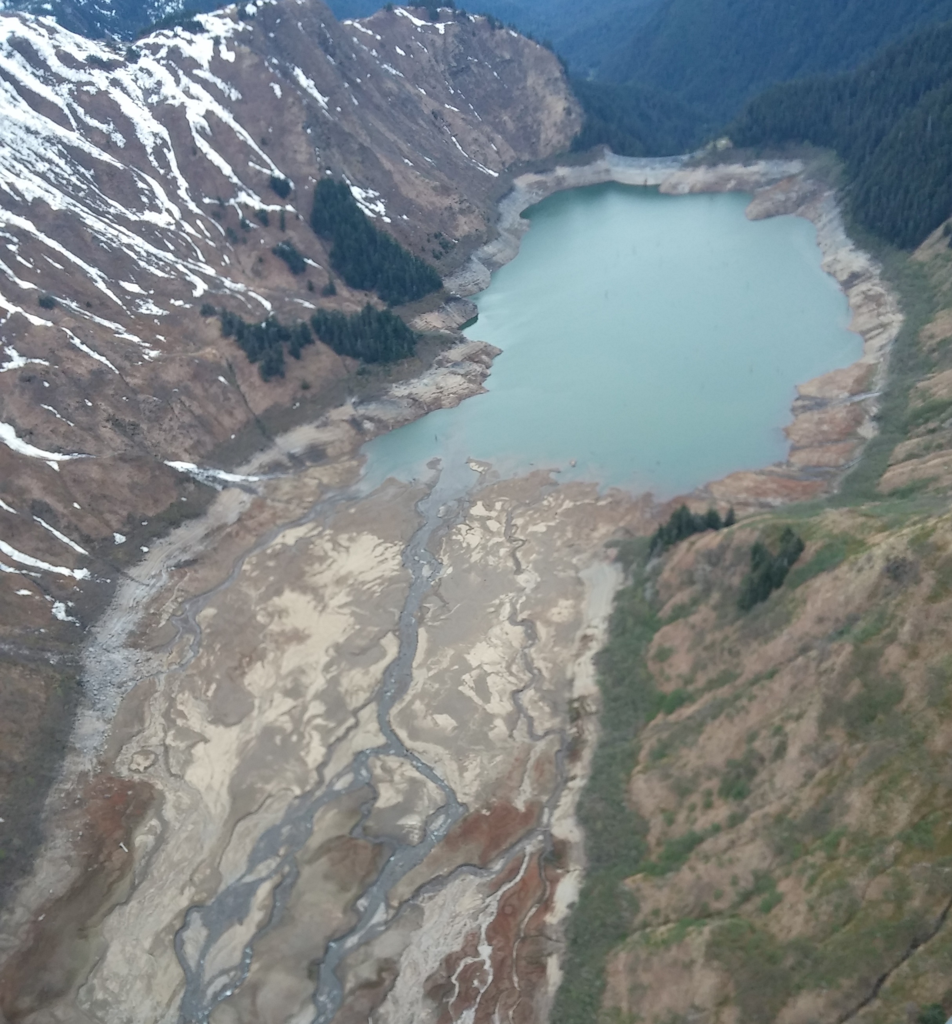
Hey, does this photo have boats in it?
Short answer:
No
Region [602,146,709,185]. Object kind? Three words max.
dam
